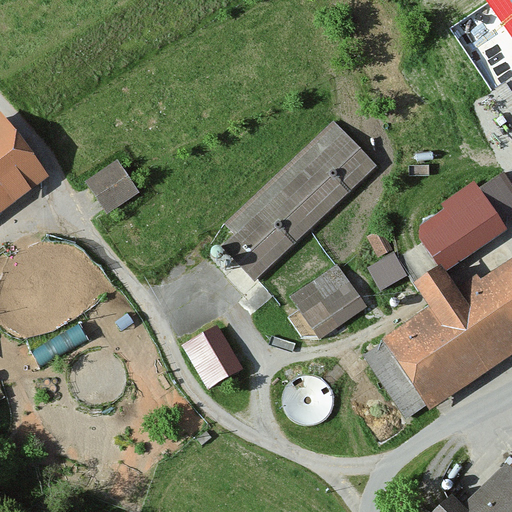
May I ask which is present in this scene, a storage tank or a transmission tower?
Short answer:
storage tank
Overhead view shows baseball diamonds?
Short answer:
No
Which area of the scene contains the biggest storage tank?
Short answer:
bottom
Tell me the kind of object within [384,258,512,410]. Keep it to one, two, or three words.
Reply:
house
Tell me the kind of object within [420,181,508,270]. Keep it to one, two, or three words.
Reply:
barn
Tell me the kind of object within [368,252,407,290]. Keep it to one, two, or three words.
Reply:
shed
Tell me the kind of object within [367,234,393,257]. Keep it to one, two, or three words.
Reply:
shed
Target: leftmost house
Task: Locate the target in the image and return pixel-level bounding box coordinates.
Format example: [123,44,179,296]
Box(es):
[0,110,48,212]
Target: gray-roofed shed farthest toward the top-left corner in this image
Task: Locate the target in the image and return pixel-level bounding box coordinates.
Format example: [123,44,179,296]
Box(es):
[86,160,138,213]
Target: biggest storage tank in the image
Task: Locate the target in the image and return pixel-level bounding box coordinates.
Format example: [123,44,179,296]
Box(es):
[282,374,334,426]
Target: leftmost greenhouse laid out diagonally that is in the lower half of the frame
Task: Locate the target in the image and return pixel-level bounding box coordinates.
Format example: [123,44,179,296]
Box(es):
[30,322,90,368]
